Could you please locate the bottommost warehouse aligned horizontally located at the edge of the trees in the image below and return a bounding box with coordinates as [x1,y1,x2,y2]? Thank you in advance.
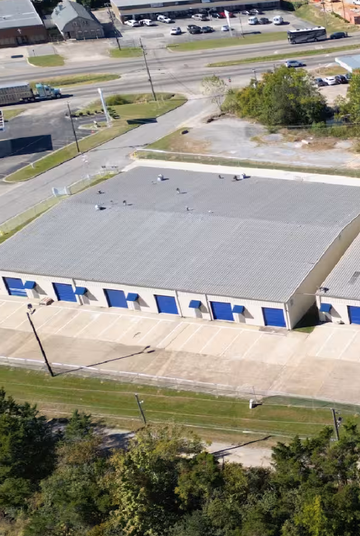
[0,166,360,328]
